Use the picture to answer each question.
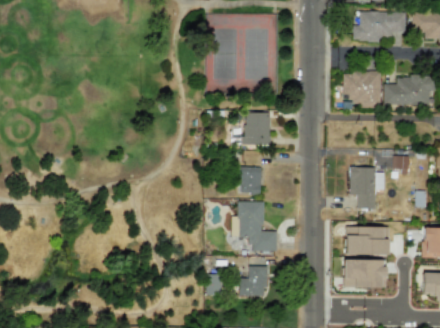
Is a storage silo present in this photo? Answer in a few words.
No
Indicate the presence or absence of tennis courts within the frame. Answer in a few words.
Yes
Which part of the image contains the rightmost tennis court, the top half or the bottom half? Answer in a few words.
top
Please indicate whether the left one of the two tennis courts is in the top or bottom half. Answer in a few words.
top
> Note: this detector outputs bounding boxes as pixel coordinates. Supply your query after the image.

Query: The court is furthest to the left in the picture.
[206,14,240,95]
